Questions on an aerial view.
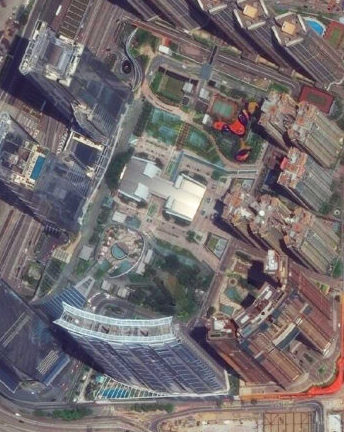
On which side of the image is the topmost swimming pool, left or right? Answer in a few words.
right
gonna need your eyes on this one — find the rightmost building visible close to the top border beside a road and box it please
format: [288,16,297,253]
[272,12,342,87]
